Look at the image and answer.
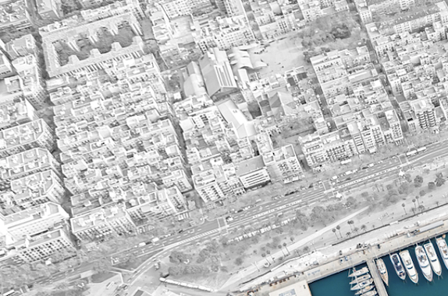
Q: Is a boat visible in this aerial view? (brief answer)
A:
Yes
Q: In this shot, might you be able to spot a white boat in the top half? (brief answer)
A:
No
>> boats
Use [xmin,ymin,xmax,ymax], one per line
[356,286,377,296]
[389,244,404,279]
[376,257,388,286]
[348,264,368,278]
[415,237,433,286]
[400,237,418,289]
[349,268,371,285]
[424,231,441,274]
[435,228,448,268]
[355,279,374,296]
[350,273,373,291]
